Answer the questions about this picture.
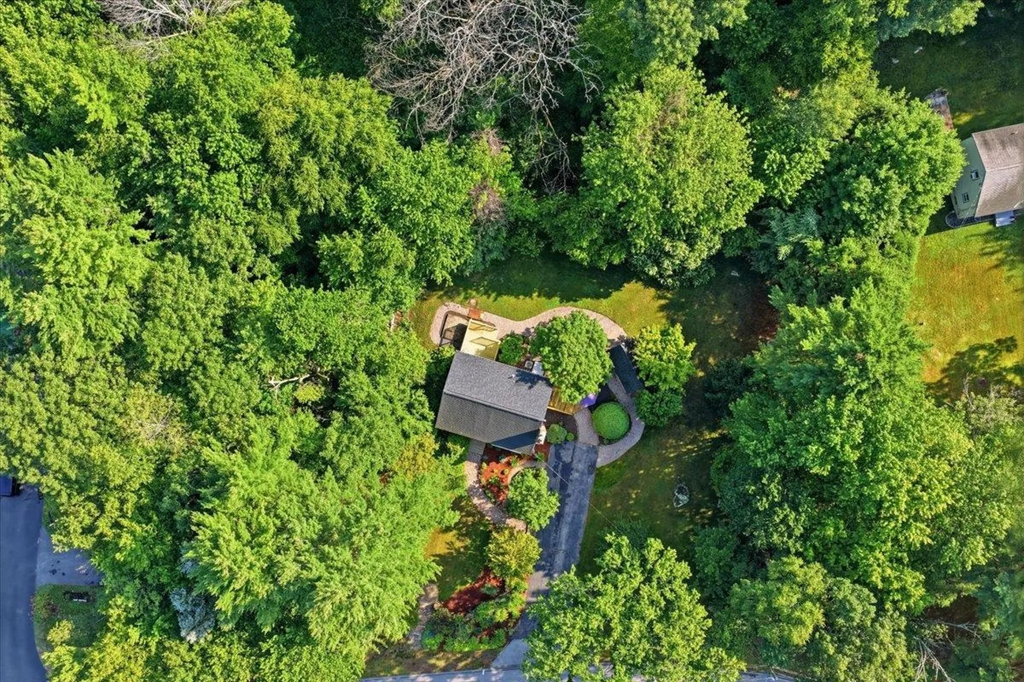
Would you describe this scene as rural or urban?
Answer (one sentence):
From above, the setting appears rural.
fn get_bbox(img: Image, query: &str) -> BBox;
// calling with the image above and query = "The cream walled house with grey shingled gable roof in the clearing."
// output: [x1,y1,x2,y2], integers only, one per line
[434,350,555,458]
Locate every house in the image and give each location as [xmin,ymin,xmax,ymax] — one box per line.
[434,350,555,458]
[949,125,1024,220]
